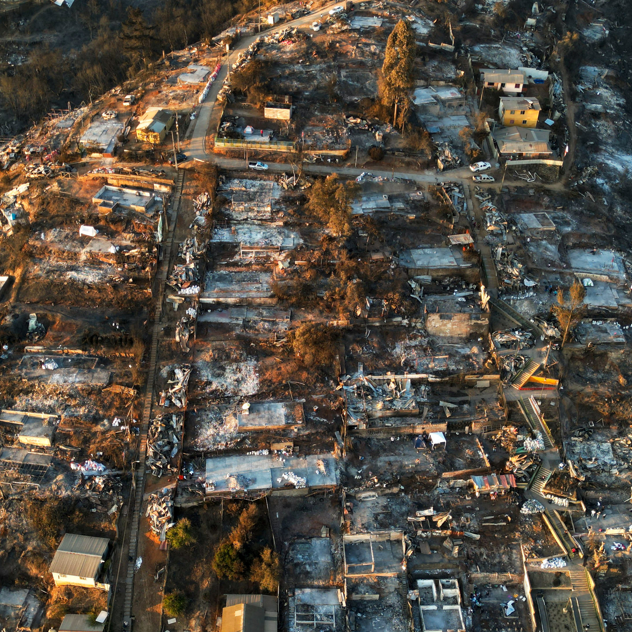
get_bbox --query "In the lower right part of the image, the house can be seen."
[470,475,516,499]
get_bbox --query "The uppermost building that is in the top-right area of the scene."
[479,67,528,100]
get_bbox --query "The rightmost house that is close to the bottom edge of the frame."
[221,594,277,632]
